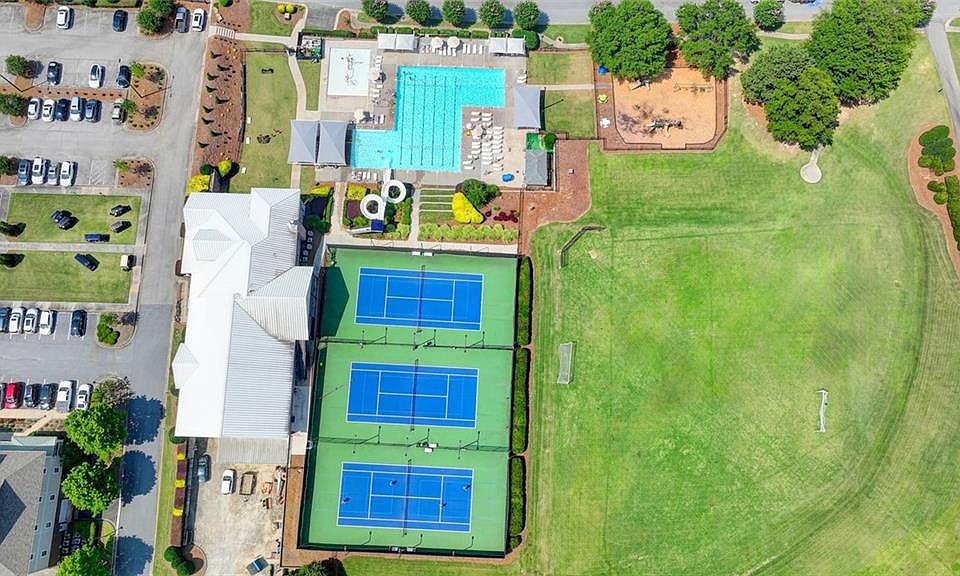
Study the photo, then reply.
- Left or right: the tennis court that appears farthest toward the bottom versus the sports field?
left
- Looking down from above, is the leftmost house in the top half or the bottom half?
bottom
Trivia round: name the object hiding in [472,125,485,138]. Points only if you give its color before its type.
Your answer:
white umbrella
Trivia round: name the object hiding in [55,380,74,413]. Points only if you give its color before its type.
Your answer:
white vehicle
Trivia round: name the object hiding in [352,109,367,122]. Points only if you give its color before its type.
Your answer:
white umbrella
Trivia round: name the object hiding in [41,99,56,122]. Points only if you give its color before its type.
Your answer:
white car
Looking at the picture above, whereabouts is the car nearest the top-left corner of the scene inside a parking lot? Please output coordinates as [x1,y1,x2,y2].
[56,7,71,29]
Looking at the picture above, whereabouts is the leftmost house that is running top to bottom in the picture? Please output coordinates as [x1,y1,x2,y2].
[0,432,63,576]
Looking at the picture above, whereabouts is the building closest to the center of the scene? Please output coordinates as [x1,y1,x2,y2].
[524,150,548,189]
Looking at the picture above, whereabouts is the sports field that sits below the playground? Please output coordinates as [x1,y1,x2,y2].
[540,196,928,576]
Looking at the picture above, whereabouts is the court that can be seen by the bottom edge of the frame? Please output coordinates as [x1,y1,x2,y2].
[301,442,508,555]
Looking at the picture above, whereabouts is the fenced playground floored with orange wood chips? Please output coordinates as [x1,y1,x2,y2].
[597,66,728,149]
